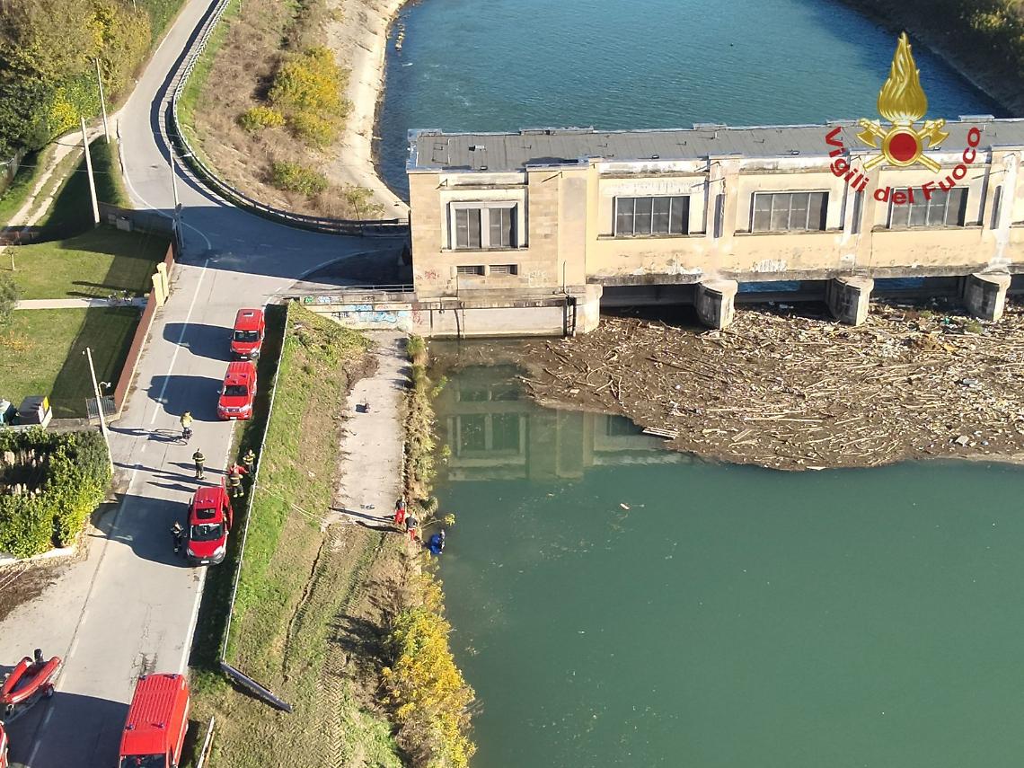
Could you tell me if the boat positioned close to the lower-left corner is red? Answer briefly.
Yes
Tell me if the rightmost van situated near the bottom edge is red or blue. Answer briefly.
red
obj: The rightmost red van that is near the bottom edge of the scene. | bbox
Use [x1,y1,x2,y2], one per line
[118,669,195,768]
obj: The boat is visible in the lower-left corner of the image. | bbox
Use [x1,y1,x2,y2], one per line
[0,648,69,711]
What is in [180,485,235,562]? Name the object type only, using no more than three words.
car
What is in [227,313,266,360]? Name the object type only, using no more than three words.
van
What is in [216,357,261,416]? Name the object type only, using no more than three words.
truck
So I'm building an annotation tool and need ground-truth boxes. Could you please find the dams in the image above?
[406,105,1024,340]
